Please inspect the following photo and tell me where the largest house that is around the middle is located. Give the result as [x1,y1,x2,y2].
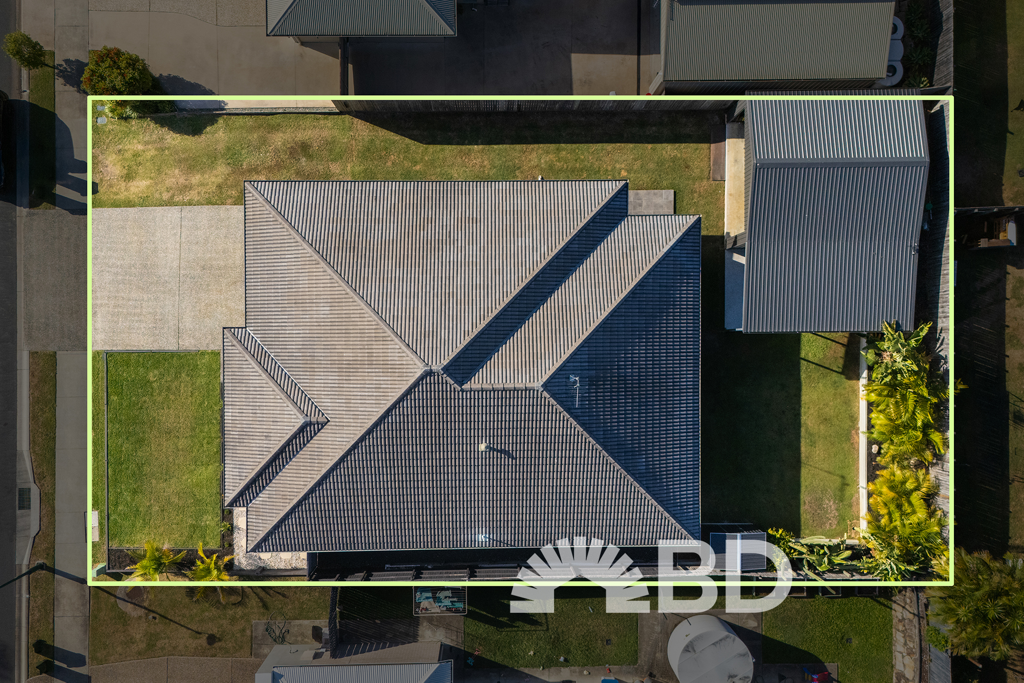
[220,175,704,555]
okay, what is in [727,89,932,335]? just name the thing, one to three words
shed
